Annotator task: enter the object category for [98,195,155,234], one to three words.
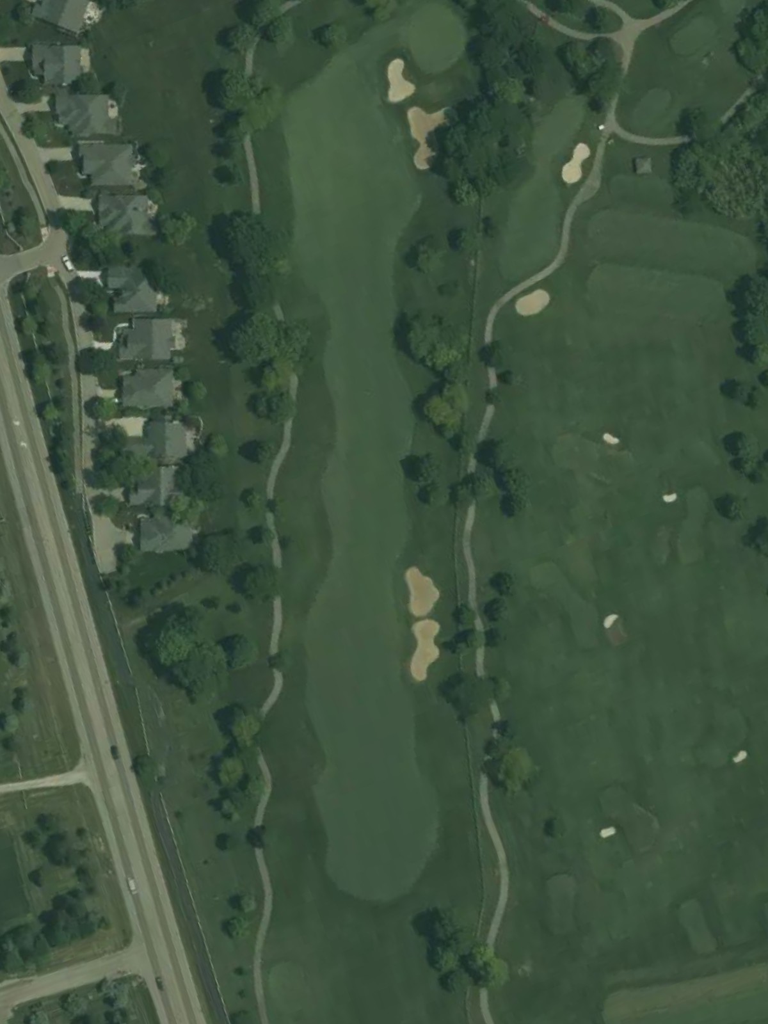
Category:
house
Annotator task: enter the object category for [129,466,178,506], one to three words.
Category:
house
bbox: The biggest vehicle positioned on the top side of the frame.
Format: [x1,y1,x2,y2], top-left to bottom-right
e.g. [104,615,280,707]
[62,254,75,272]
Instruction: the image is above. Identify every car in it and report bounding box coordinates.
[110,744,119,760]
[127,877,136,893]
[62,254,75,272]
[156,976,164,991]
